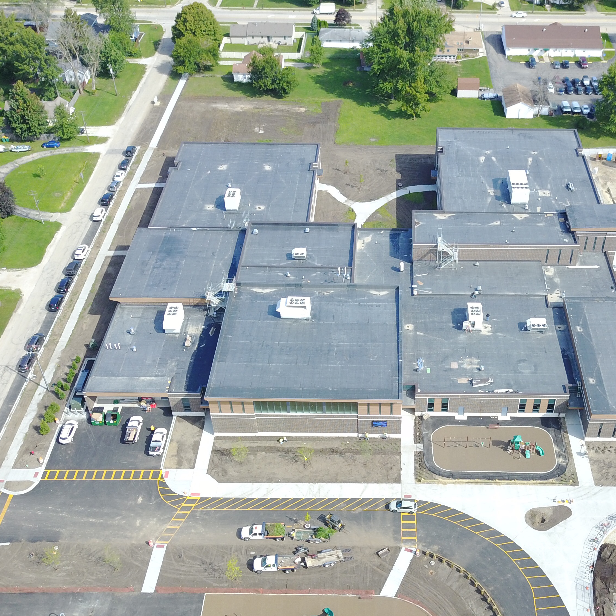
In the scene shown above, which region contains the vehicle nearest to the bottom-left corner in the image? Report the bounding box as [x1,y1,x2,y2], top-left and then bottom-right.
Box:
[57,420,79,445]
